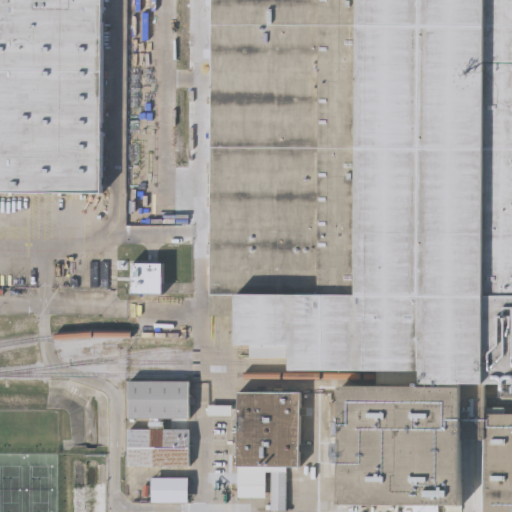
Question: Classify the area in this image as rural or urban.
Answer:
urban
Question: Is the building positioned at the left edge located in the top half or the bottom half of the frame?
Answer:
top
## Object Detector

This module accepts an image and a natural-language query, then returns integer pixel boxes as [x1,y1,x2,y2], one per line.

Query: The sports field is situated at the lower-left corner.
[0,410,59,453]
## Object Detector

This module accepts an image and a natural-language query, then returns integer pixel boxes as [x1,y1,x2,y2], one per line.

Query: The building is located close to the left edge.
[0,0,105,192]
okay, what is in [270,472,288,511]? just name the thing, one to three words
shed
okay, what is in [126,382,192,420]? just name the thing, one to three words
building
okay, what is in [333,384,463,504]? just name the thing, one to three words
building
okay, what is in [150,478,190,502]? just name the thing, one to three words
shed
